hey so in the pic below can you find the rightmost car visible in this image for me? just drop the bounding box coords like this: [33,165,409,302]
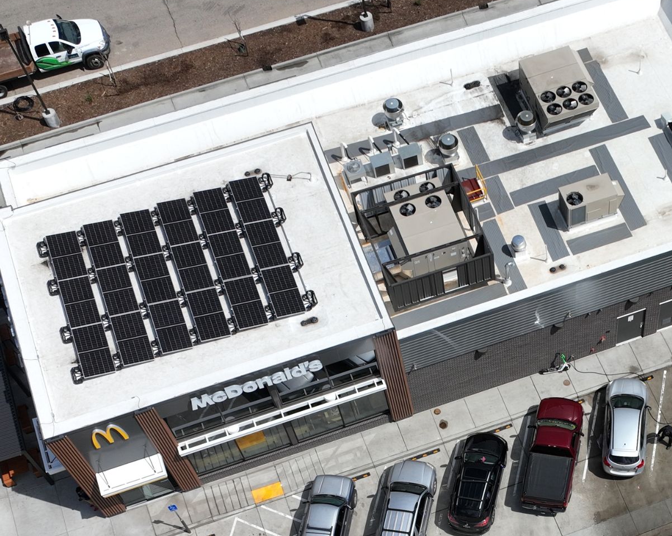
[602,380,654,478]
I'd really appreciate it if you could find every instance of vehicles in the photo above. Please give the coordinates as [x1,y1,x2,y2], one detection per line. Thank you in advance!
[375,458,437,536]
[0,15,113,84]
[447,431,510,536]
[602,380,654,478]
[523,394,586,514]
[296,472,356,536]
